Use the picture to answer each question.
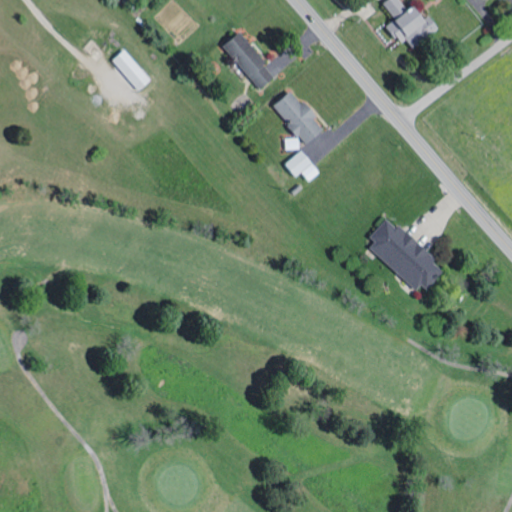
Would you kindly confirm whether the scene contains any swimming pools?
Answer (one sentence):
No, I can see no swimming pool in this picture.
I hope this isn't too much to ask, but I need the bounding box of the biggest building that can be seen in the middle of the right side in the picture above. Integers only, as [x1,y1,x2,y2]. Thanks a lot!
[370,220,442,290]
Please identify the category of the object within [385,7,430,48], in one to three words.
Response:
house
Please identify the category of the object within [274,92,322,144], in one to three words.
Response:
house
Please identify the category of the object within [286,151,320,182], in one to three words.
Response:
building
